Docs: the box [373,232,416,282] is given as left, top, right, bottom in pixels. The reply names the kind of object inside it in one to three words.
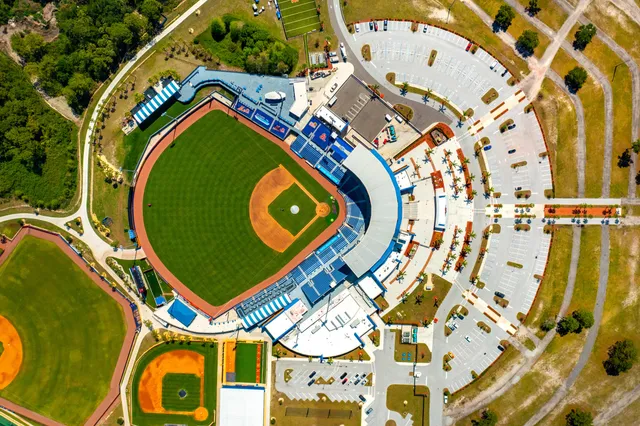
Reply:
building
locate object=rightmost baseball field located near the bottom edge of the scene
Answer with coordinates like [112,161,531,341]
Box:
[131,342,217,426]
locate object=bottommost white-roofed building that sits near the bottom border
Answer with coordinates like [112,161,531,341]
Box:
[221,383,266,426]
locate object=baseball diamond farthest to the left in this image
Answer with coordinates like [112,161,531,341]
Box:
[0,225,138,426]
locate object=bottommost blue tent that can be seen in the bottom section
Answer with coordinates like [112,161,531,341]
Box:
[168,297,198,327]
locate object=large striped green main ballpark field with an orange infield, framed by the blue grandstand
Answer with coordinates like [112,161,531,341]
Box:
[134,99,348,317]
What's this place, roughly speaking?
sports ground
